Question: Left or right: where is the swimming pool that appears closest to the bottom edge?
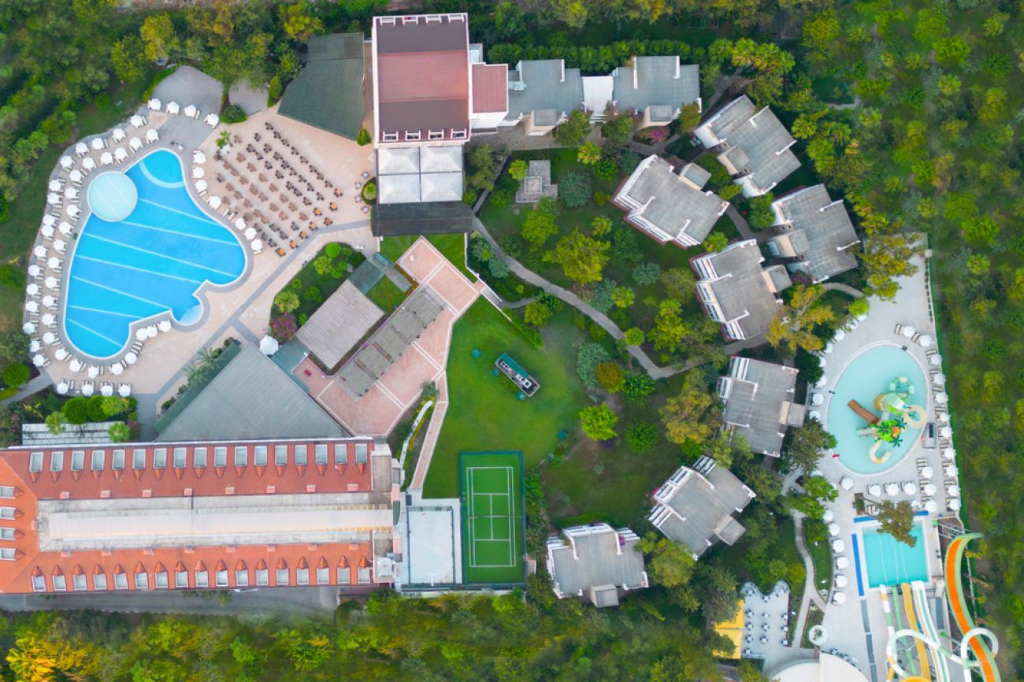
right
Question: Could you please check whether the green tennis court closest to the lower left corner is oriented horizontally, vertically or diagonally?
vertically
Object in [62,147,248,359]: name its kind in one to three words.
swimming pool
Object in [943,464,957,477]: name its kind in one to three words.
umbrella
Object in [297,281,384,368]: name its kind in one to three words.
building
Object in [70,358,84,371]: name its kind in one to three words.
umbrella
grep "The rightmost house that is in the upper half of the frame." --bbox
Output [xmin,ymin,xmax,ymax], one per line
[768,184,863,287]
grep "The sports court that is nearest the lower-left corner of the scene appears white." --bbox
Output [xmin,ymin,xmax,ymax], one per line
[406,506,456,587]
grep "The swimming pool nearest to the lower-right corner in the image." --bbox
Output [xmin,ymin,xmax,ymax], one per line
[856,515,935,594]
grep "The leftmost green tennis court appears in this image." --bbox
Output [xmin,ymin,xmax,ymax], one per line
[459,451,526,589]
